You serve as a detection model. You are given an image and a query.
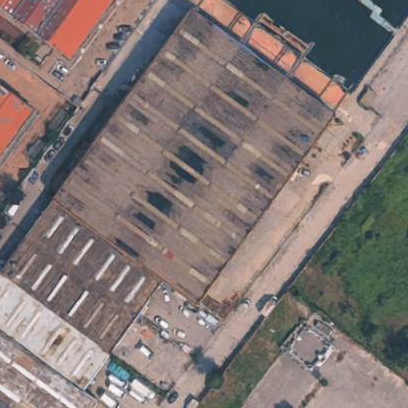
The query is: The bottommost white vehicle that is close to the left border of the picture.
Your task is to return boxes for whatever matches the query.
[9,203,22,220]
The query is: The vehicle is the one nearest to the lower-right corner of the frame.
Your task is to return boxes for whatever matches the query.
[260,294,278,315]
